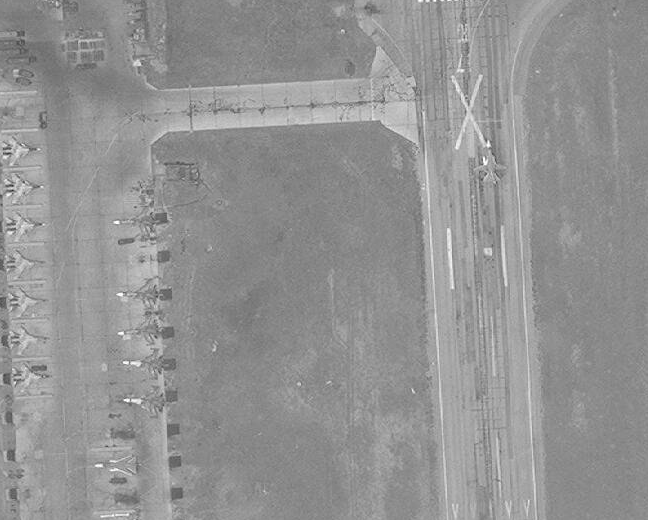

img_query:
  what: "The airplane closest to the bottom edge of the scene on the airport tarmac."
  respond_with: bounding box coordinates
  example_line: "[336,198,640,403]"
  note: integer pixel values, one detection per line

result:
[96,454,138,475]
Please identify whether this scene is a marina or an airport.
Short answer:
airport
